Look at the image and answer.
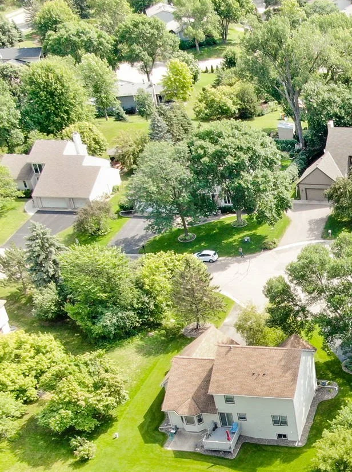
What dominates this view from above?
trees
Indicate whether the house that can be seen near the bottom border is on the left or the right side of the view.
right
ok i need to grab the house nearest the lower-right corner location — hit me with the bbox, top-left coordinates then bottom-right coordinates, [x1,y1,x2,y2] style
[161,325,335,456]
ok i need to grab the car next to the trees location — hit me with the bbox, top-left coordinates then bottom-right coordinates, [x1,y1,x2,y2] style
[192,249,219,263]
